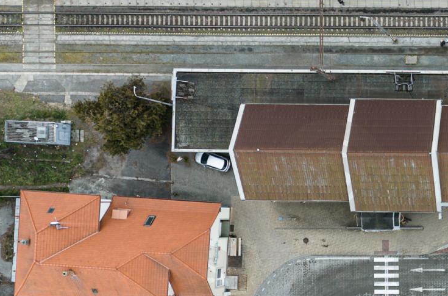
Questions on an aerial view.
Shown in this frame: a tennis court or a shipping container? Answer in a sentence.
There is a shipping container in the scene.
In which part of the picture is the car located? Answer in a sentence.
The car appears toward the center of the photo.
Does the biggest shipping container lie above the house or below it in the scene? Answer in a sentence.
Looking at the photo, you'll find the biggest shipping container above the house.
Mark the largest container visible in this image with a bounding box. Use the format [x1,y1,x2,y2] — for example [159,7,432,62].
[5,120,83,146]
